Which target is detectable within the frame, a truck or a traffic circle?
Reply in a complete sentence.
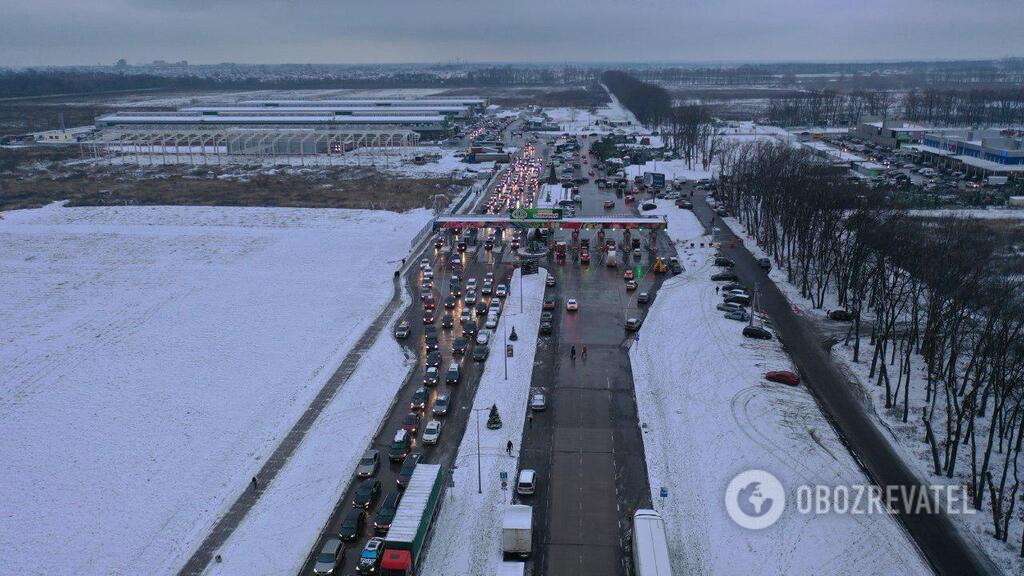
This aerial view contains a truck.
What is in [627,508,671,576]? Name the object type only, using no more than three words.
truck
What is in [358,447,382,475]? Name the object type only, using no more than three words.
car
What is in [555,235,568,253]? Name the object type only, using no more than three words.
vehicle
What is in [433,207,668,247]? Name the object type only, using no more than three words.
toll station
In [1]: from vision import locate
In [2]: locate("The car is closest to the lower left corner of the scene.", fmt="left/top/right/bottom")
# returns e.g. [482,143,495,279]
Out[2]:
[315,536,347,573]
